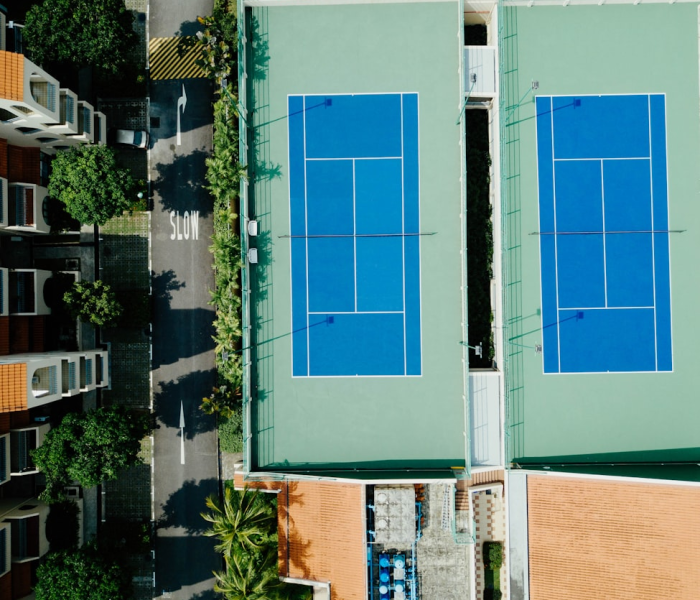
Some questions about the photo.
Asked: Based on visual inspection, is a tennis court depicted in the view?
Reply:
Yes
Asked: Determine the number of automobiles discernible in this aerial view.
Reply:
one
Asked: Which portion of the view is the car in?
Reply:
top left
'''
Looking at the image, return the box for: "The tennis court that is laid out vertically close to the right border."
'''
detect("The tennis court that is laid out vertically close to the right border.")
[483,3,700,467]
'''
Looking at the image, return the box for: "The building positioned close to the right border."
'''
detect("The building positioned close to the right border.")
[499,463,700,600]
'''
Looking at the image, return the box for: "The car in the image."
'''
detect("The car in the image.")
[107,127,152,151]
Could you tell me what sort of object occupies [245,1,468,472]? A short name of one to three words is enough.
tennis court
